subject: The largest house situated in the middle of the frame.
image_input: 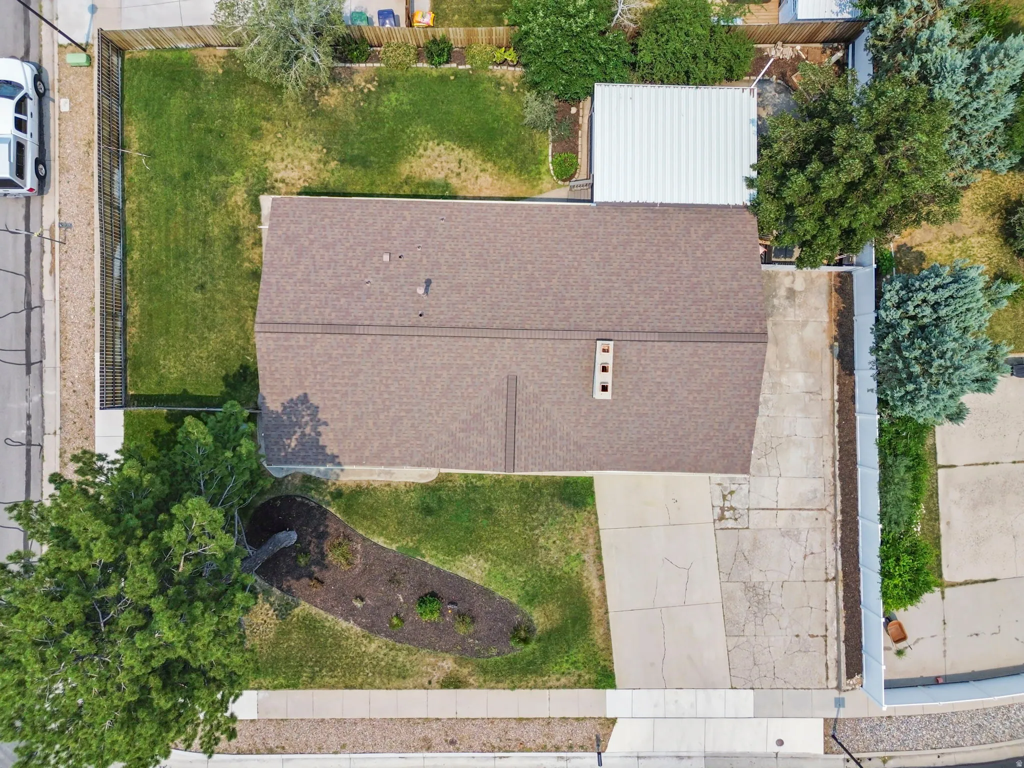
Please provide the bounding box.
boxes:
[254,194,767,478]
